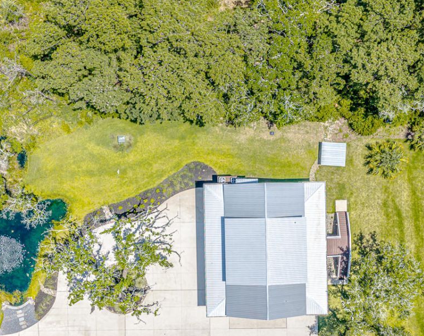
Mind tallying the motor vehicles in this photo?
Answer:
0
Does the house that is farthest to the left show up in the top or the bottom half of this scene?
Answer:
bottom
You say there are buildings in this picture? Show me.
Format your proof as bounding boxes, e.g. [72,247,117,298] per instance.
[203,179,329,320]
[321,143,346,166]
